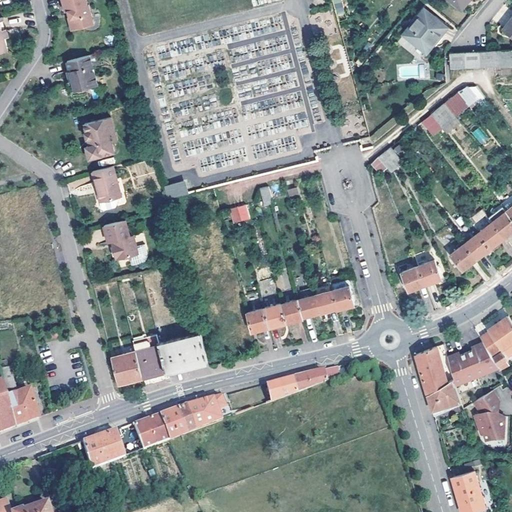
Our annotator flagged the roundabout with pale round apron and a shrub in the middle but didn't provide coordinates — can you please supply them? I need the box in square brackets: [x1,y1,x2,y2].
[368,317,412,362]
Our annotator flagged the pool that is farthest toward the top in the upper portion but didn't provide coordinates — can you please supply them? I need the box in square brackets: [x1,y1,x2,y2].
[397,62,430,80]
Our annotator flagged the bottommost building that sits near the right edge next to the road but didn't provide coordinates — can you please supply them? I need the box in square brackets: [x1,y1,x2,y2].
[450,472,488,512]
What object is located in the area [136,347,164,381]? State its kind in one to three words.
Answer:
house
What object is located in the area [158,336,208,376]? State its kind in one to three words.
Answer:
building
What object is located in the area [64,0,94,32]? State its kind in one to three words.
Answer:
house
